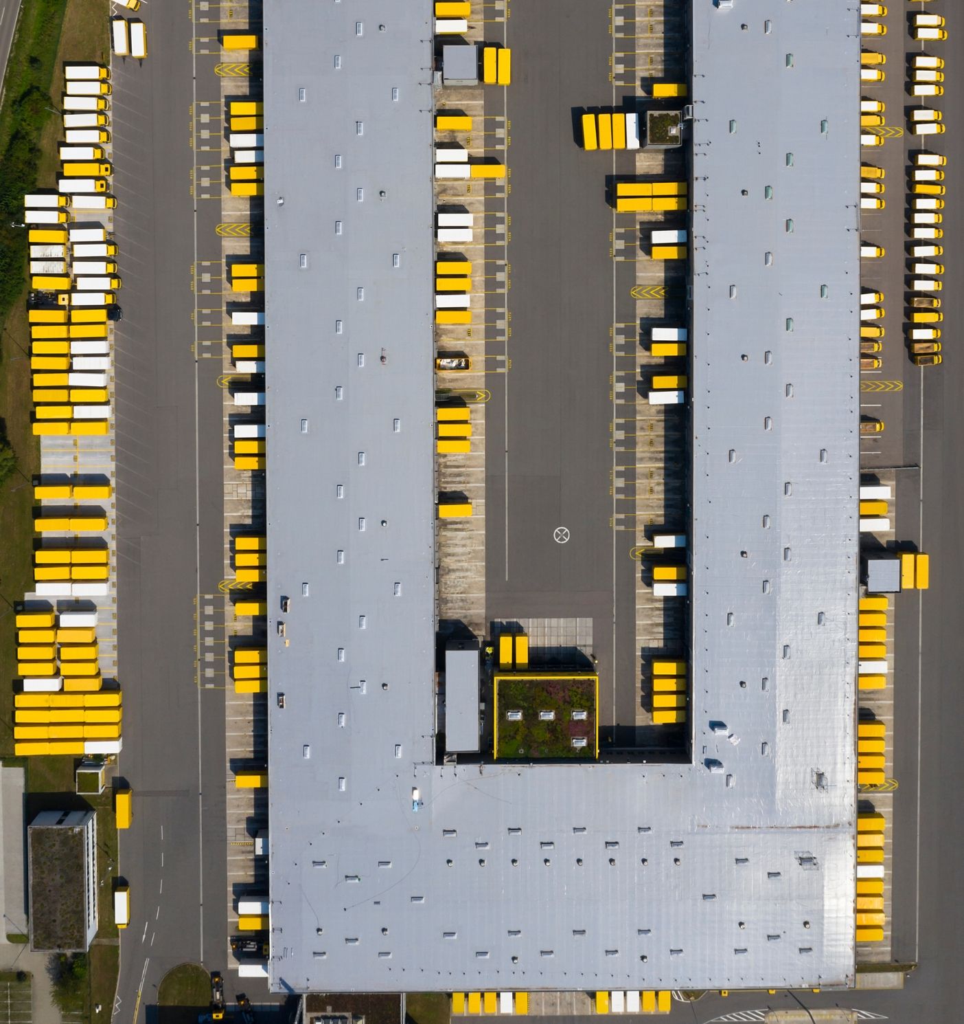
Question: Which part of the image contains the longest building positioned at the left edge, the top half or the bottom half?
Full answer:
The bottom half of the photo is where the longest building positioned at the left edge is.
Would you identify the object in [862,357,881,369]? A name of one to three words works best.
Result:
vehicle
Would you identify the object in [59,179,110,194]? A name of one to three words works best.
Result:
vehicle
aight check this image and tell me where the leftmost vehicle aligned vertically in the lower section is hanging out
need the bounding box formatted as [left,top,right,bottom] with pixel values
[115,884,130,931]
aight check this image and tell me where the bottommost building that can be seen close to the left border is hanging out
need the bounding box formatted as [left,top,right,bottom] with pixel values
[27,811,98,953]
